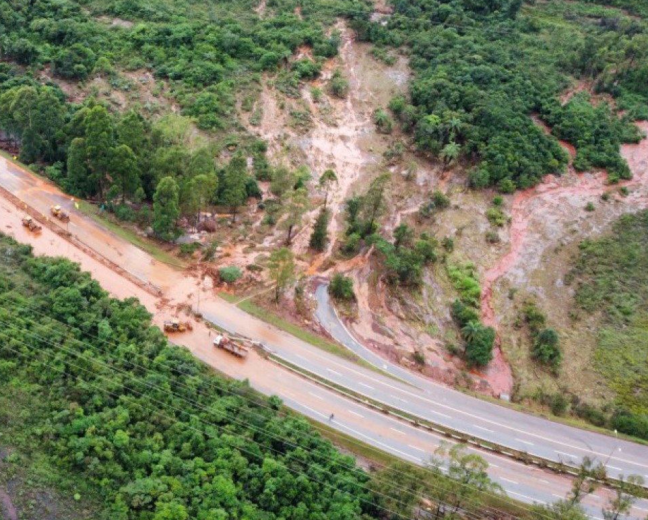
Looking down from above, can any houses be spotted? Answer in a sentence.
No, the scene contains no house.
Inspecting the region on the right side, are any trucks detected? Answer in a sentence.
No, no truck can be made out on the right side.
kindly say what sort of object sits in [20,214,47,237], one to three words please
work vehicle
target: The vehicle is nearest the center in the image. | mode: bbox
[212,333,248,357]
